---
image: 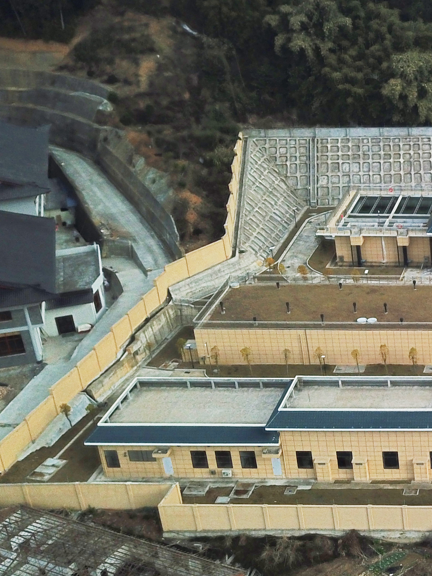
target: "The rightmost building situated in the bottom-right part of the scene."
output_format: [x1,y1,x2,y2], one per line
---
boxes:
[264,375,432,487]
